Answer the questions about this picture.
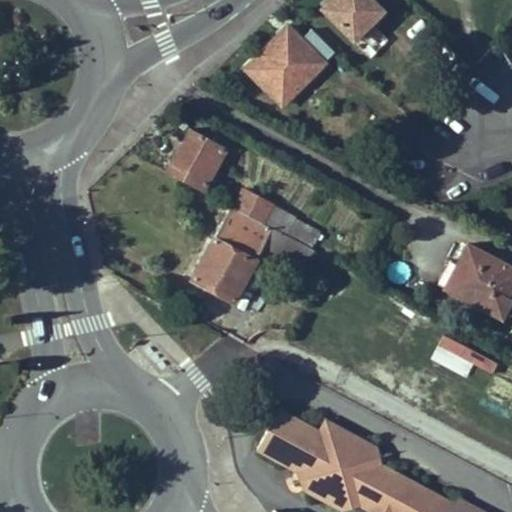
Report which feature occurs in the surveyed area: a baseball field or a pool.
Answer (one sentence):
Of the two, only a pool appears.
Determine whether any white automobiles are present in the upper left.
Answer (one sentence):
No, there's no white automobile to be seen in the upper left.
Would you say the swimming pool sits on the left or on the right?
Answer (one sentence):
The swimming pool appears in the right half of the scene.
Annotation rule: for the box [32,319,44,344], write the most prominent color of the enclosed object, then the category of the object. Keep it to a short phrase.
white vehicle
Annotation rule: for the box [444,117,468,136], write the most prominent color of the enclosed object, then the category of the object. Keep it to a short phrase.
white vehicle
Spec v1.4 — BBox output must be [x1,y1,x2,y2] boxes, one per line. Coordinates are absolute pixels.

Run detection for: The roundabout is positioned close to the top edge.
[0,0,130,186]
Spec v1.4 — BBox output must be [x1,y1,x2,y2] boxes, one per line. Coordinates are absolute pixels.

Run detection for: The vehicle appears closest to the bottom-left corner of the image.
[40,380,54,402]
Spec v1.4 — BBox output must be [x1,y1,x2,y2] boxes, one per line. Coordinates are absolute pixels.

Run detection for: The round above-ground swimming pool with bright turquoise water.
[386,260,414,284]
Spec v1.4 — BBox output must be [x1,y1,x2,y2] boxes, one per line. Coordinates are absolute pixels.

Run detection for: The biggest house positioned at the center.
[184,186,320,304]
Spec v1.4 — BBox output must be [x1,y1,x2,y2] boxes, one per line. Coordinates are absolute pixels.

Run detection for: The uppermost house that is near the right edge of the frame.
[437,242,512,324]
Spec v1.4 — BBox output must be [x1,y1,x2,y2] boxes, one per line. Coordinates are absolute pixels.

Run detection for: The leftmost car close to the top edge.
[210,4,233,19]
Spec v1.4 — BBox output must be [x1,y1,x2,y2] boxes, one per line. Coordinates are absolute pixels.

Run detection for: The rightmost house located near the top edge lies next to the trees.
[320,0,388,58]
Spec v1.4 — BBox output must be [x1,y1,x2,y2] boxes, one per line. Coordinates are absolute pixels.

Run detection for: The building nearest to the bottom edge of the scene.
[256,411,476,512]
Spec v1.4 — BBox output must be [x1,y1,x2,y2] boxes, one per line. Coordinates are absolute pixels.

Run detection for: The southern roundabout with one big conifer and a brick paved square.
[0,356,209,512]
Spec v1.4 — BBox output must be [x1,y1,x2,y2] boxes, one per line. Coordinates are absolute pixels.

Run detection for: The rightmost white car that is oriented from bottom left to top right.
[446,180,468,199]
